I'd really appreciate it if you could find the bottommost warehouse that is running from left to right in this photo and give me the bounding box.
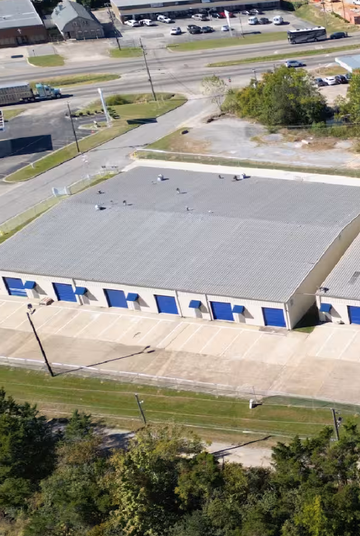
[0,166,360,328]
